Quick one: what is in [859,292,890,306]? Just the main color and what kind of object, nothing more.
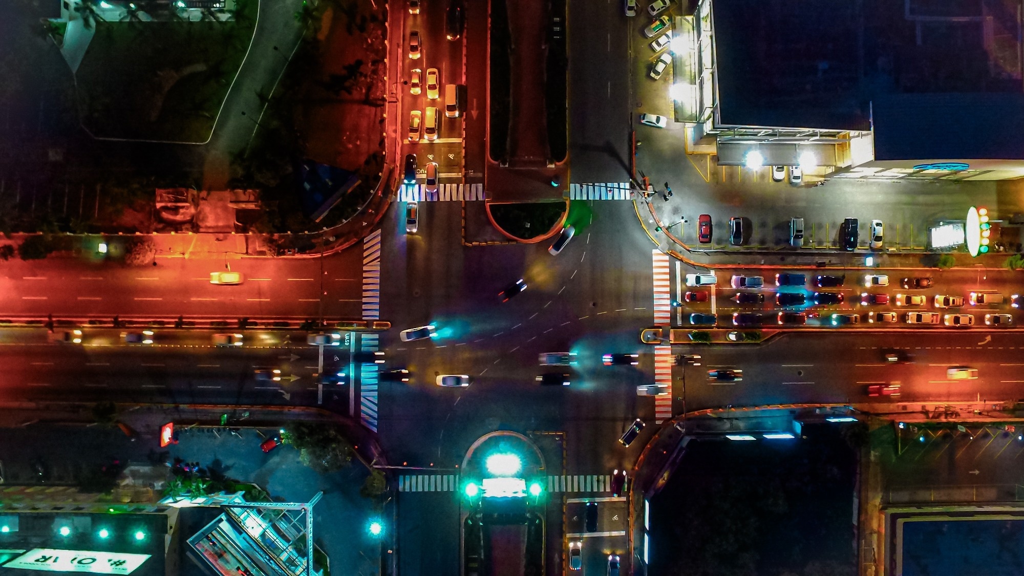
red vehicle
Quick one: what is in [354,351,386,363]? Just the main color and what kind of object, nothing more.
black vehicle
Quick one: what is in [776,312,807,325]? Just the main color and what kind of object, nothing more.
red vehicle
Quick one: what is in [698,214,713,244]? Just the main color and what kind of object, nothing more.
red car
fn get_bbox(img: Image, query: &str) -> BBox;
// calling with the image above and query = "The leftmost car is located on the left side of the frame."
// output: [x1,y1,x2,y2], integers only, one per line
[54,330,84,343]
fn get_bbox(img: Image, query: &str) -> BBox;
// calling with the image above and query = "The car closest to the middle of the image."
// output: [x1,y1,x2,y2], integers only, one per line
[498,279,527,302]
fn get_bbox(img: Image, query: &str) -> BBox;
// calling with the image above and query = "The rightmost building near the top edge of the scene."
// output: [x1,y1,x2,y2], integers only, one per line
[820,0,1024,185]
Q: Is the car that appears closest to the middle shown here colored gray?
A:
No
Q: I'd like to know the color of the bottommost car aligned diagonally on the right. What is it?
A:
black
